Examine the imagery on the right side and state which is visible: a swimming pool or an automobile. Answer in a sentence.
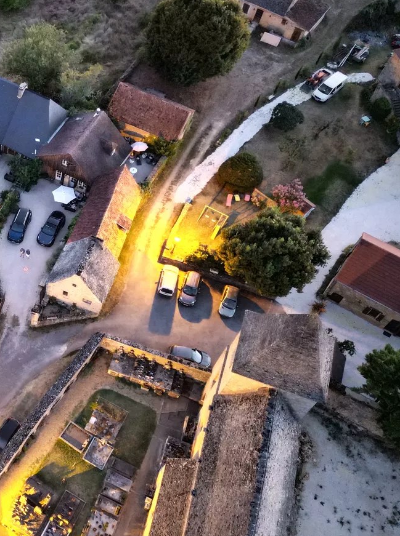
What appears on the right side is an automobile.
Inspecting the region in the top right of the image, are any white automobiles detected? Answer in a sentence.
Yes, a white automobile shows up in the top right of the image.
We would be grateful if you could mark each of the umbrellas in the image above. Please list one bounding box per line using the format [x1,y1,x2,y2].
[130,140,149,162]
[49,184,78,210]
